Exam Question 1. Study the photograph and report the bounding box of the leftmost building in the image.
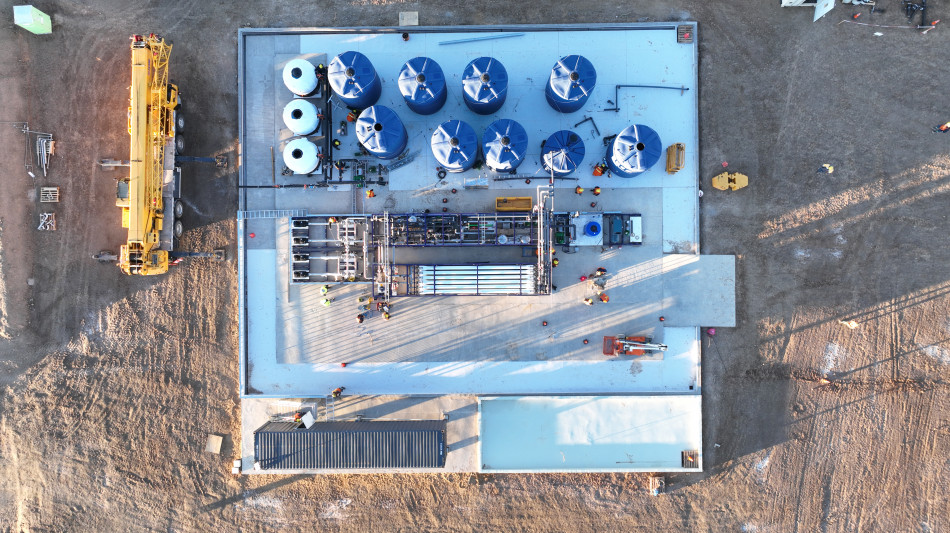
[13,6,51,35]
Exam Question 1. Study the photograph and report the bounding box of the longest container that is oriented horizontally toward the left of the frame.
[254,411,453,470]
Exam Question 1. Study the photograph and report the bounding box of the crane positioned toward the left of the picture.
[91,32,230,274]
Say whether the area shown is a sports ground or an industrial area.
industrial area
